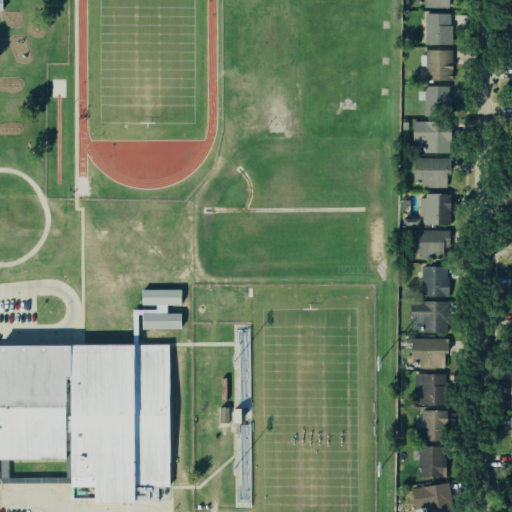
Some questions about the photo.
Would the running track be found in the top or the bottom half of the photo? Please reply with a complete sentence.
Seen from above, the running track lies in the top half of the view.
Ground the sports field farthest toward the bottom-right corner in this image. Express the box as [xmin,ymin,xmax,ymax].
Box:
[263,309,358,512]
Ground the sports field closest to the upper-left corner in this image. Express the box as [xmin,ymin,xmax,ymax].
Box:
[101,0,196,123]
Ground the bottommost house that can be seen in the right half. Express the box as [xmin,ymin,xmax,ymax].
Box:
[412,483,453,512]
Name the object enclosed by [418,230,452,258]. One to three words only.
house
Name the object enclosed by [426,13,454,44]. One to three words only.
house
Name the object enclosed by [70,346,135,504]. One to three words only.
building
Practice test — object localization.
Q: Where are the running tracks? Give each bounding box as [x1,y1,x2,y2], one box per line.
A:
[78,0,218,189]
